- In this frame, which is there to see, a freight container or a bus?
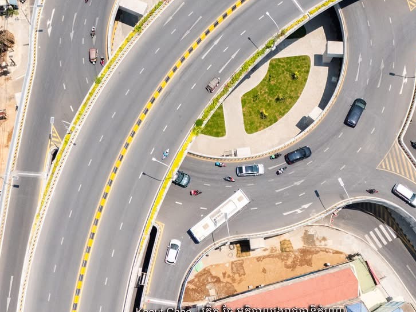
bus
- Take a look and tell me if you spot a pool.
No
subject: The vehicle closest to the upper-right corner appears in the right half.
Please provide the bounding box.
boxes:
[346,100,367,129]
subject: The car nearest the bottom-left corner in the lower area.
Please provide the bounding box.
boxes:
[166,238,182,269]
